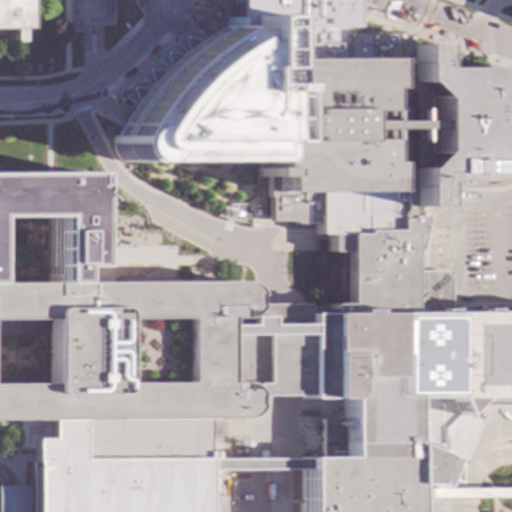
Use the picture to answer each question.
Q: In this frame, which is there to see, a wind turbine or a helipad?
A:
helipad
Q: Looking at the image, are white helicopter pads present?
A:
Yes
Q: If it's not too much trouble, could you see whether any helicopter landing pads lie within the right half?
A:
Yes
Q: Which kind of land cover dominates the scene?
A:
buildings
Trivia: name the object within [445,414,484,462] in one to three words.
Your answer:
building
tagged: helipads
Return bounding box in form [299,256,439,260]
[414,317,471,394]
